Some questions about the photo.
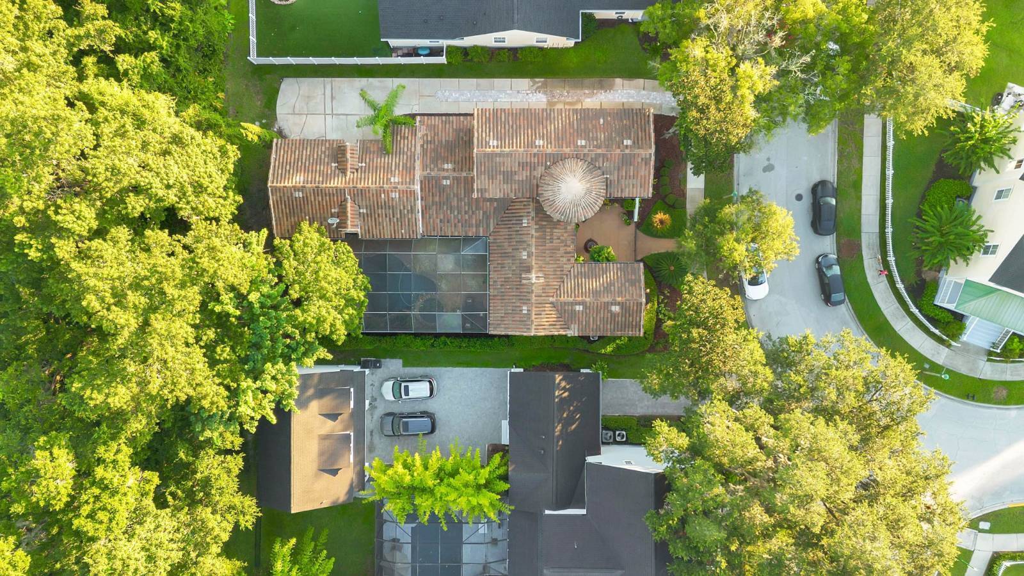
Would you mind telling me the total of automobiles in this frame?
five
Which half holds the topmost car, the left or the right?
right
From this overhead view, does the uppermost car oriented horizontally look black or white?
white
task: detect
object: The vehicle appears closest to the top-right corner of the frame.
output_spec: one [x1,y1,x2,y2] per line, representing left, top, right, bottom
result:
[808,181,838,236]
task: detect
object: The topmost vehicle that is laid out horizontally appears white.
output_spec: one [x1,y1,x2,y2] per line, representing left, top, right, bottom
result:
[383,375,437,402]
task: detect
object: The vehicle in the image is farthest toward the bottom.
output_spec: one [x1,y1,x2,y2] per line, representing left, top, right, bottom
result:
[382,410,437,437]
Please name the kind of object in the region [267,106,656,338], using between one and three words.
house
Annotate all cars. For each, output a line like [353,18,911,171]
[808,181,838,236]
[743,246,771,300]
[383,375,437,402]
[382,410,437,437]
[813,254,842,306]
